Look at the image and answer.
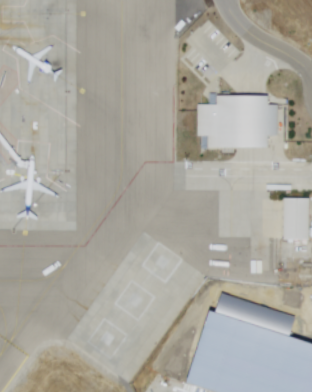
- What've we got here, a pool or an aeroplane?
aeroplane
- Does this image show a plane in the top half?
Yes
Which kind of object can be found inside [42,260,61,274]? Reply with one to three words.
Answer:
vehicle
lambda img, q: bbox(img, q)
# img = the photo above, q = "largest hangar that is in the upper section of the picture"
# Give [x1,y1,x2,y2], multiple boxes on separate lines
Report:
[197,92,278,152]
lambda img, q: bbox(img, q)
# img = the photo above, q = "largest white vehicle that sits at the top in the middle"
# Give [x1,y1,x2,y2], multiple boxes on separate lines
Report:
[172,18,187,32]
